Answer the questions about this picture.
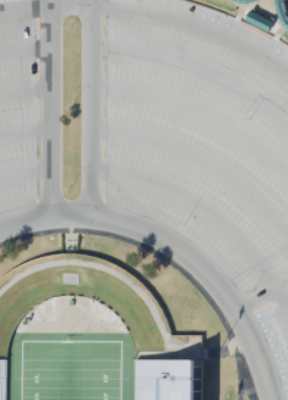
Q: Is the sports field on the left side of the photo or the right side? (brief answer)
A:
left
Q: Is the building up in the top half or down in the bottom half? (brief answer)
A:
top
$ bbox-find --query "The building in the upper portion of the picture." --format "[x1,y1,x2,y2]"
[247,10,278,32]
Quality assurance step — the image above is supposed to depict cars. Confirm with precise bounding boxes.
[32,64,36,74]
[188,5,194,13]
[256,289,266,296]
[24,28,28,39]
